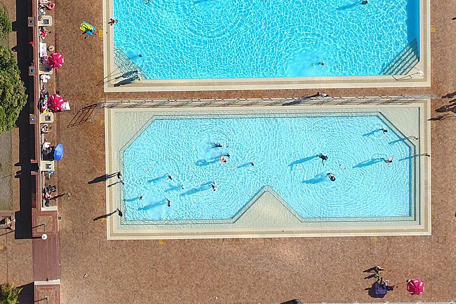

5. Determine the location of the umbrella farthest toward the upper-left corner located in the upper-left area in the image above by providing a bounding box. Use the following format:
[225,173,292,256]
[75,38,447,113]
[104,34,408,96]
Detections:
[47,51,64,69]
